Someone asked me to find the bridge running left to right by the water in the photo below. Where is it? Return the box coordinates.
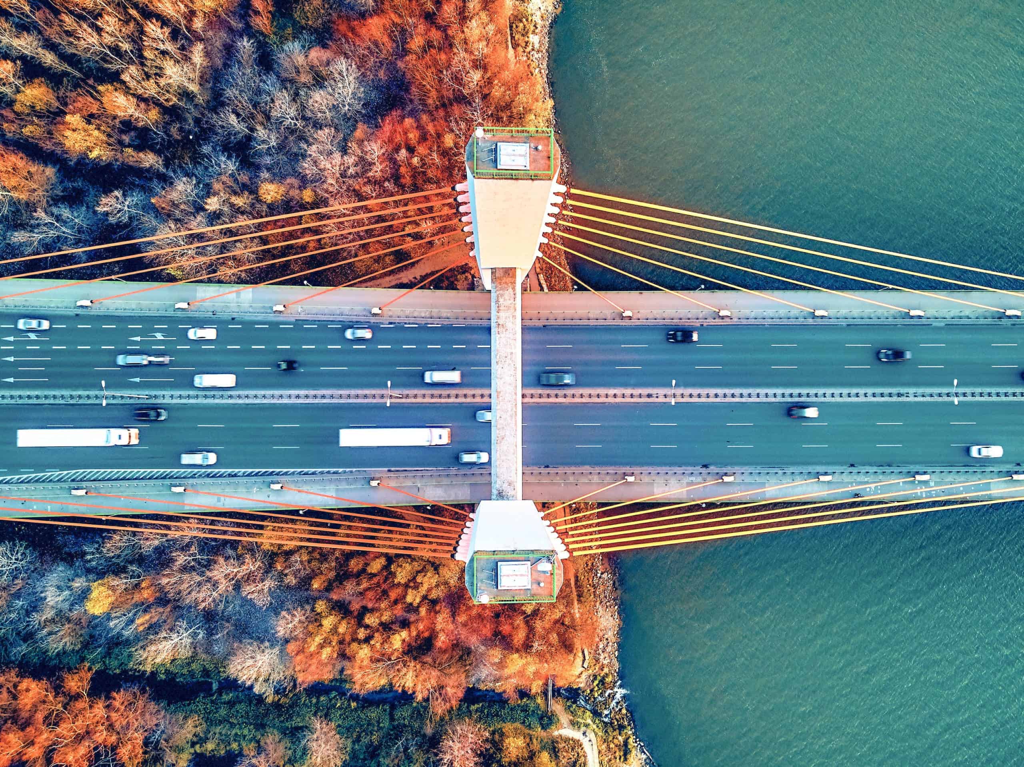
[0,128,1024,604]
